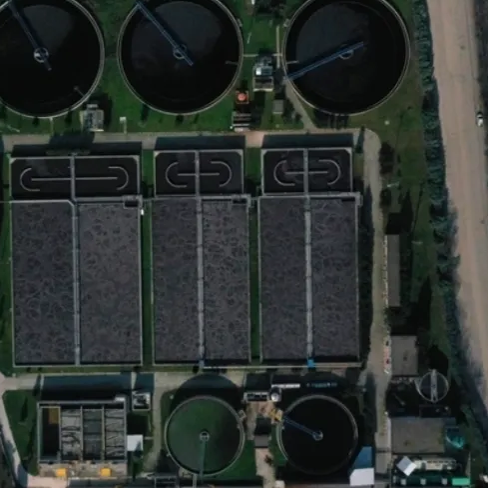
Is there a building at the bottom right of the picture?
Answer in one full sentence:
Yes, you'll find a building at the bottom right of the picture.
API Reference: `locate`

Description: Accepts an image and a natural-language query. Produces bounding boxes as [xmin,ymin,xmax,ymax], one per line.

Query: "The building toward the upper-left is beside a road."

[81,104,104,131]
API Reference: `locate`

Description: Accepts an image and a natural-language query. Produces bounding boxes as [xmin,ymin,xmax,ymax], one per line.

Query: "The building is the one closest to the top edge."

[252,59,273,92]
